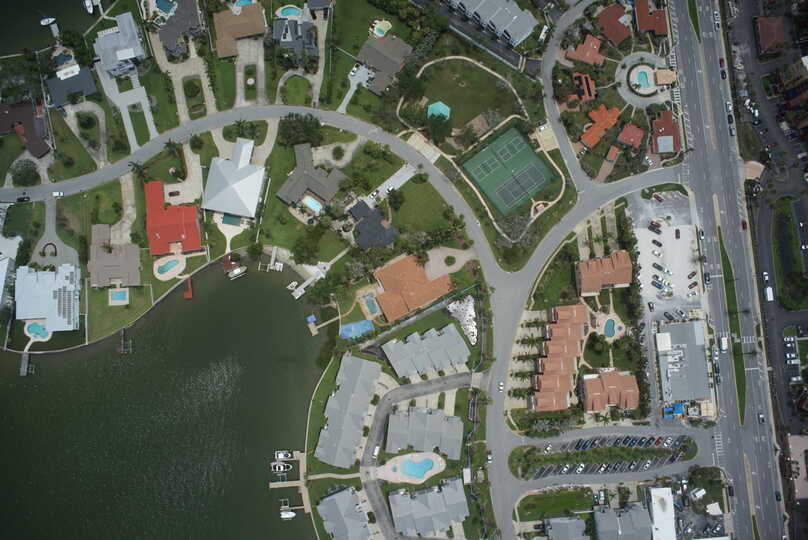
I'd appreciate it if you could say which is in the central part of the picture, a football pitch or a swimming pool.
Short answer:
swimming pool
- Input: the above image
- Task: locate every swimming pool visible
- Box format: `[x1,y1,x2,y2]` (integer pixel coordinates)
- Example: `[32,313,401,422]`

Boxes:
[376,454,445,483]
[275,5,306,21]
[153,256,186,280]
[144,0,176,25]
[24,319,52,341]
[213,212,247,241]
[52,47,74,69]
[357,283,383,321]
[370,19,391,37]
[108,287,129,306]
[296,190,324,224]
[597,312,626,340]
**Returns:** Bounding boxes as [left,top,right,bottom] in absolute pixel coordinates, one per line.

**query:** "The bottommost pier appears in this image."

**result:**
[269,450,311,513]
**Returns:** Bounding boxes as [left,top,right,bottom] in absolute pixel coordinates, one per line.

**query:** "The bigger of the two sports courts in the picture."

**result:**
[462,126,557,216]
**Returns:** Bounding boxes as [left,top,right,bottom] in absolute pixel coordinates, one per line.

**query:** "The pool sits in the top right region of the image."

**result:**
[629,63,656,91]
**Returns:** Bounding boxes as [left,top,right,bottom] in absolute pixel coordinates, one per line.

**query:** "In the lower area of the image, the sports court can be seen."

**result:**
[341,321,375,339]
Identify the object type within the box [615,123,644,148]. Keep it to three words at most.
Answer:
house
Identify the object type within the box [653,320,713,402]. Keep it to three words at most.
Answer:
building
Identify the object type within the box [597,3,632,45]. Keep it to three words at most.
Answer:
house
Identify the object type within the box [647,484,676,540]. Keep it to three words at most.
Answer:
building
